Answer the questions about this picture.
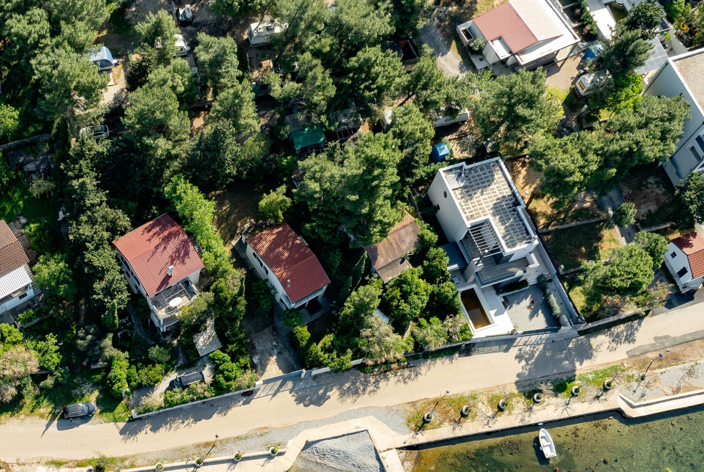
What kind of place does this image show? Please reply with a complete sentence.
This looks like a residential area.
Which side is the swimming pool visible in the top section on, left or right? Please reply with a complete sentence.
The swimming pool visible in the top section appears in the right half of the scene.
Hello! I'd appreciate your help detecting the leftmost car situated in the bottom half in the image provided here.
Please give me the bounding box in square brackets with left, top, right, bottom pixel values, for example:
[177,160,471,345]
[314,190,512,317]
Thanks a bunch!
[63,402,97,421]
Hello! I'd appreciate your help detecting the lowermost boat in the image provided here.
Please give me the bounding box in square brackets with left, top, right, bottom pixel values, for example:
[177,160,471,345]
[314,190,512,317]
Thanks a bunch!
[538,428,557,460]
